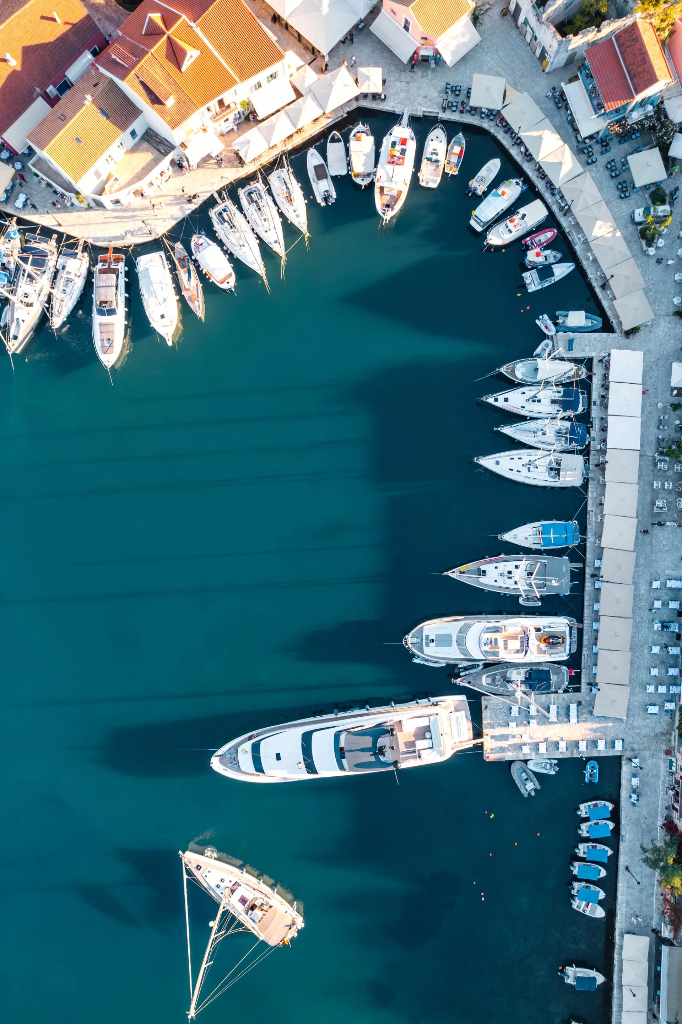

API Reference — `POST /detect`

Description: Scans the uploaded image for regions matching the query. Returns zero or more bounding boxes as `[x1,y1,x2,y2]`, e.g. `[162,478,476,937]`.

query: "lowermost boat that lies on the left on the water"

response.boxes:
[179,848,302,1018]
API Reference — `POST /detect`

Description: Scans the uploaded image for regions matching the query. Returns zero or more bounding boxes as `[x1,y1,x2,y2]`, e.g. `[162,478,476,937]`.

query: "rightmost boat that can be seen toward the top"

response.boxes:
[556,310,602,333]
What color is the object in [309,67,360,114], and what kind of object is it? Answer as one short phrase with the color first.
white umbrella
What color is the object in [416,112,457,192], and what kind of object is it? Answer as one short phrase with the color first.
white boat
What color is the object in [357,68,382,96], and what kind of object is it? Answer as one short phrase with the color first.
white umbrella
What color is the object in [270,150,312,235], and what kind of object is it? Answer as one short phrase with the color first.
white boat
